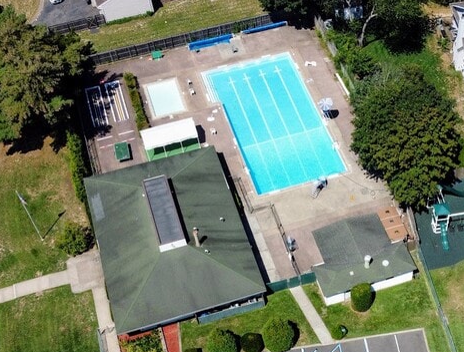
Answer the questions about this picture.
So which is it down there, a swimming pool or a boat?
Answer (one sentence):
This aerial view contains a swimming pool.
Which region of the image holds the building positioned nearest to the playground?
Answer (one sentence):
The building positioned nearest to the playground is in the bottom right part of the image.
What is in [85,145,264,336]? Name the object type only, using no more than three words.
building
